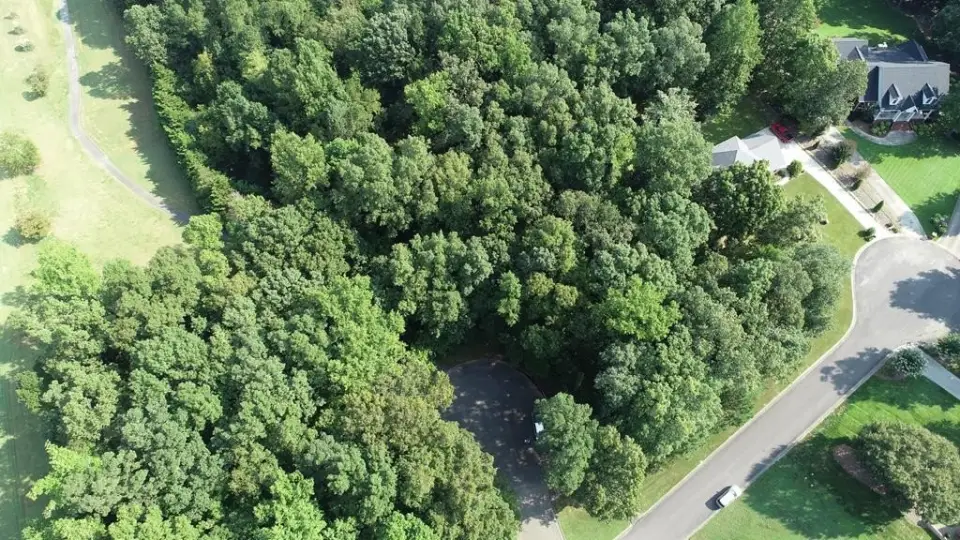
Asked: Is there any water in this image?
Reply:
No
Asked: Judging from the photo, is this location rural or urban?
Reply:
rural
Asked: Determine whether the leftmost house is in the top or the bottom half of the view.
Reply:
top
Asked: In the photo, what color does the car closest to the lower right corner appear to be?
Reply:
white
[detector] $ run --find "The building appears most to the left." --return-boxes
[712,135,788,179]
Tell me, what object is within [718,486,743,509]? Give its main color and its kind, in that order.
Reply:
white car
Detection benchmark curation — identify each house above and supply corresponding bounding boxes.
[712,135,788,179]
[822,38,952,128]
